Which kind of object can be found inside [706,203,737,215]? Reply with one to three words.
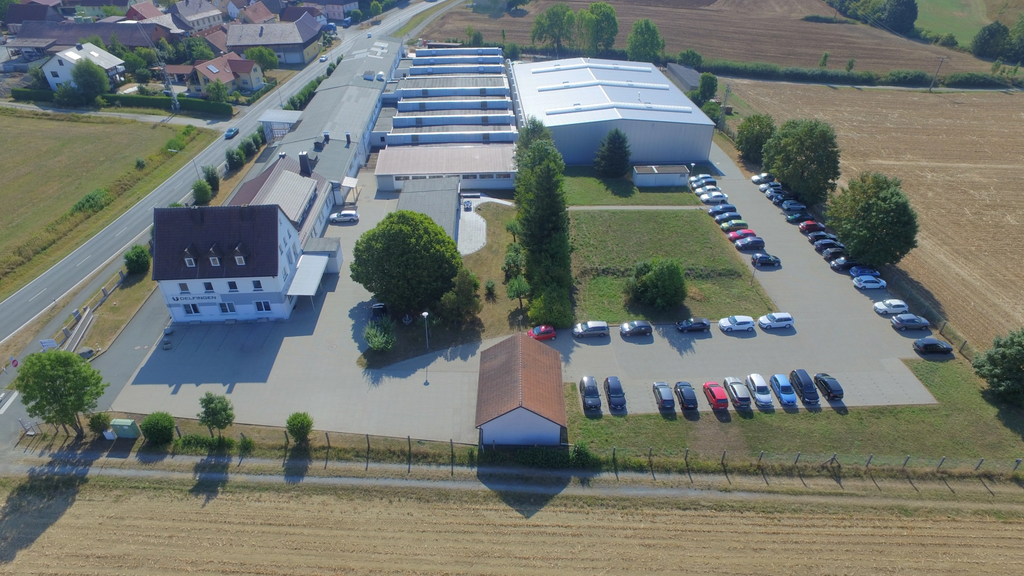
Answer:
vehicle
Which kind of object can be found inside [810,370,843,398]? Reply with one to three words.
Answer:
car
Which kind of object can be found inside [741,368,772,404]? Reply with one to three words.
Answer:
car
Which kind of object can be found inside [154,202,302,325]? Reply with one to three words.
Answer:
house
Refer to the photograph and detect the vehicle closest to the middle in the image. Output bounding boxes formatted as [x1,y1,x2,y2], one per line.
[526,323,557,340]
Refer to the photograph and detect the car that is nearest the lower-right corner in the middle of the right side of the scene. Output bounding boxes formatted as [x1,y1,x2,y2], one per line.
[909,337,951,354]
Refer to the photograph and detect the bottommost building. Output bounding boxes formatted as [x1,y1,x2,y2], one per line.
[475,320,574,452]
